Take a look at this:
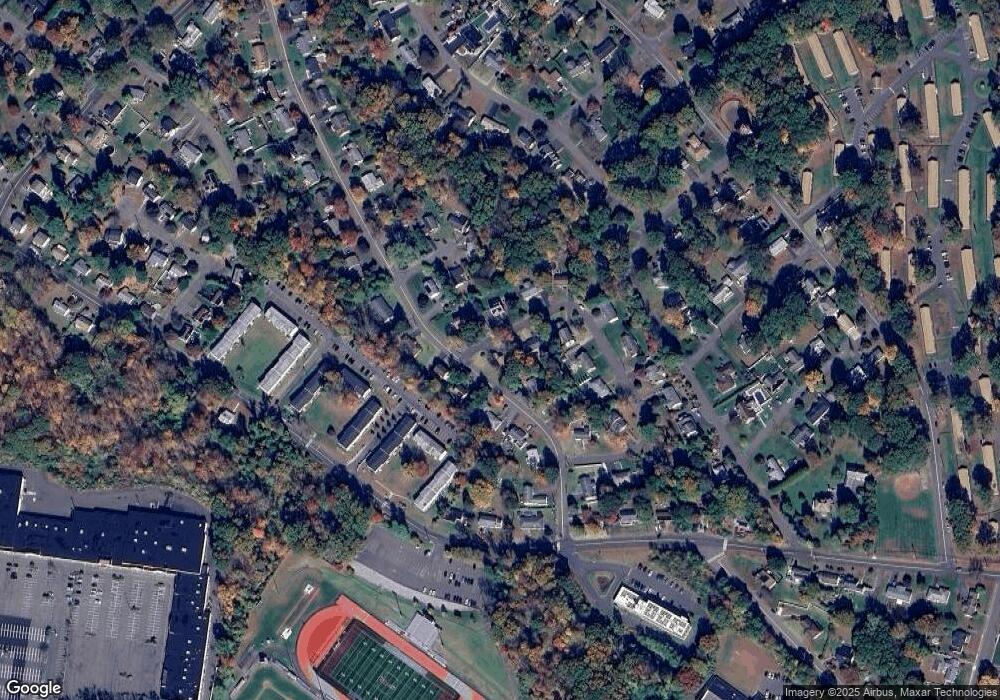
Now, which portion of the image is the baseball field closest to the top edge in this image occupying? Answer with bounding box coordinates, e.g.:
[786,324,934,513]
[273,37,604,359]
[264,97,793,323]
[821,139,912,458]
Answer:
[876,471,939,558]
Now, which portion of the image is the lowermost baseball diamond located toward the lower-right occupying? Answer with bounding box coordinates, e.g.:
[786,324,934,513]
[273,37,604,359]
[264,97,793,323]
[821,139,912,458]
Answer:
[714,634,783,692]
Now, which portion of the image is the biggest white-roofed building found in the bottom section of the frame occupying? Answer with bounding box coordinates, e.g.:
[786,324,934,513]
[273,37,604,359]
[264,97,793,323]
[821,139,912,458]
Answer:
[615,587,694,642]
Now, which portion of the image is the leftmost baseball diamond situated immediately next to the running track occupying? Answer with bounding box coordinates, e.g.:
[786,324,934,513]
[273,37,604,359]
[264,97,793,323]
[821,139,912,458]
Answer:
[240,663,319,700]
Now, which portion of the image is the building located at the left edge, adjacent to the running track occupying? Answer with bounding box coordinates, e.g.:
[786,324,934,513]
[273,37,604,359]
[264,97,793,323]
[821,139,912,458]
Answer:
[0,469,211,700]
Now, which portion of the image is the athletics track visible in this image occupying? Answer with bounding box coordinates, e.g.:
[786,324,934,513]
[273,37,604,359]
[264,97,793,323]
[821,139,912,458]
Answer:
[296,592,480,700]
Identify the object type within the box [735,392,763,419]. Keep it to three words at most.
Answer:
house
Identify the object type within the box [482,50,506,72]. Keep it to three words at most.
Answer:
house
